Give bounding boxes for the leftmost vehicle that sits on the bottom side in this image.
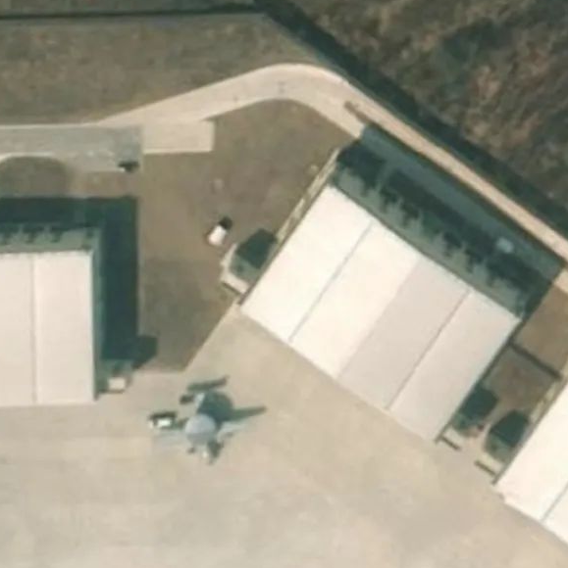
[150,415,174,428]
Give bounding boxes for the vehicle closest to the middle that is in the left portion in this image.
[210,219,229,242]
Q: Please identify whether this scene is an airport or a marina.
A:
airport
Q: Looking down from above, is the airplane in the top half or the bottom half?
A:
bottom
